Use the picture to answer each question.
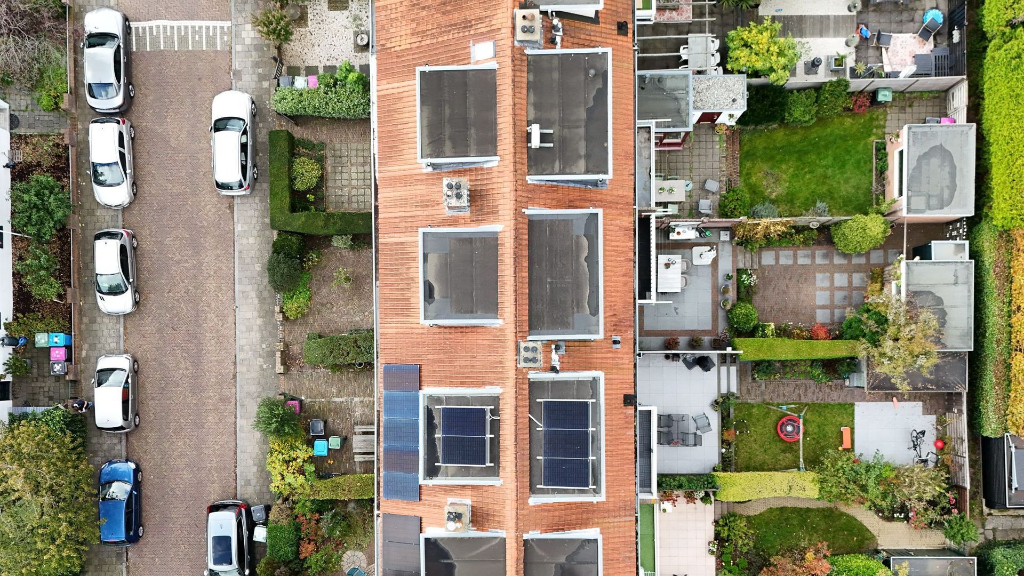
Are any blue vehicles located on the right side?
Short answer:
No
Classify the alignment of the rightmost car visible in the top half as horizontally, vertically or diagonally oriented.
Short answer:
vertically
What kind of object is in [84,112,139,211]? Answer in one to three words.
car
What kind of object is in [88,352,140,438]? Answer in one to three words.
car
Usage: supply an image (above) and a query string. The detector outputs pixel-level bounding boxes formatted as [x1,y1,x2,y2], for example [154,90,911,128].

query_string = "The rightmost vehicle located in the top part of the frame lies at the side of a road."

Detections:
[206,87,261,195]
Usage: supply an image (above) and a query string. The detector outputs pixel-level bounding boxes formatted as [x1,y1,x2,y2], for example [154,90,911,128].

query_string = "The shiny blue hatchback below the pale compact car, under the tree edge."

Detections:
[92,460,146,552]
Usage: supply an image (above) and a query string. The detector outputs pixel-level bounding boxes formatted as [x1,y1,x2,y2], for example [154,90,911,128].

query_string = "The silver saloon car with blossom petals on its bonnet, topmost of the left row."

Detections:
[78,3,136,113]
